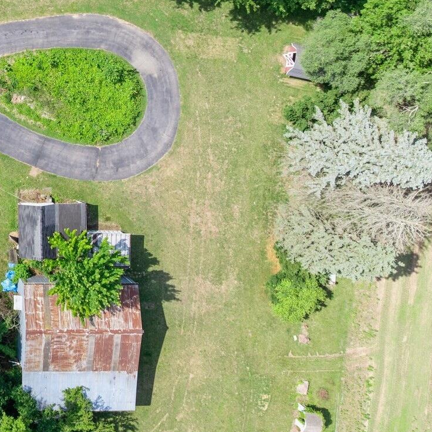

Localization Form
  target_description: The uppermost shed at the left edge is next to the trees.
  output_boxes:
[16,199,87,260]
